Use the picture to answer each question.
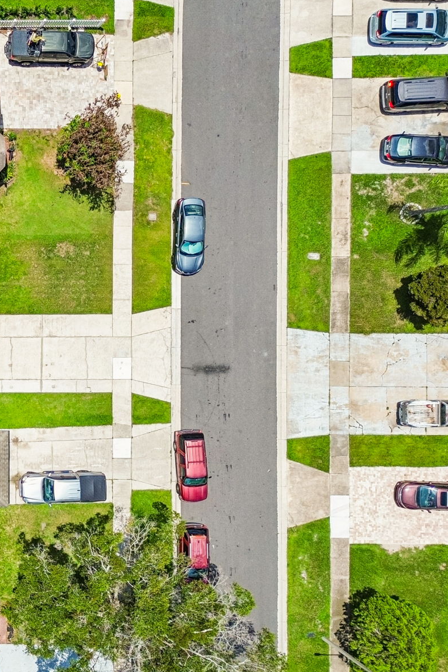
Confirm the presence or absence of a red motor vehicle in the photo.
Yes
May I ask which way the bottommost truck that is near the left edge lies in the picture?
from left to right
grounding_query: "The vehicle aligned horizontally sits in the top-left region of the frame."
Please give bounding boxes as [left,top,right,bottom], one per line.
[1,27,92,68]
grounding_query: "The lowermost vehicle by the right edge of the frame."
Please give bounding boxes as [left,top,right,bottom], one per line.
[397,479,448,515]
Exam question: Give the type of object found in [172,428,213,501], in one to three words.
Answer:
car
